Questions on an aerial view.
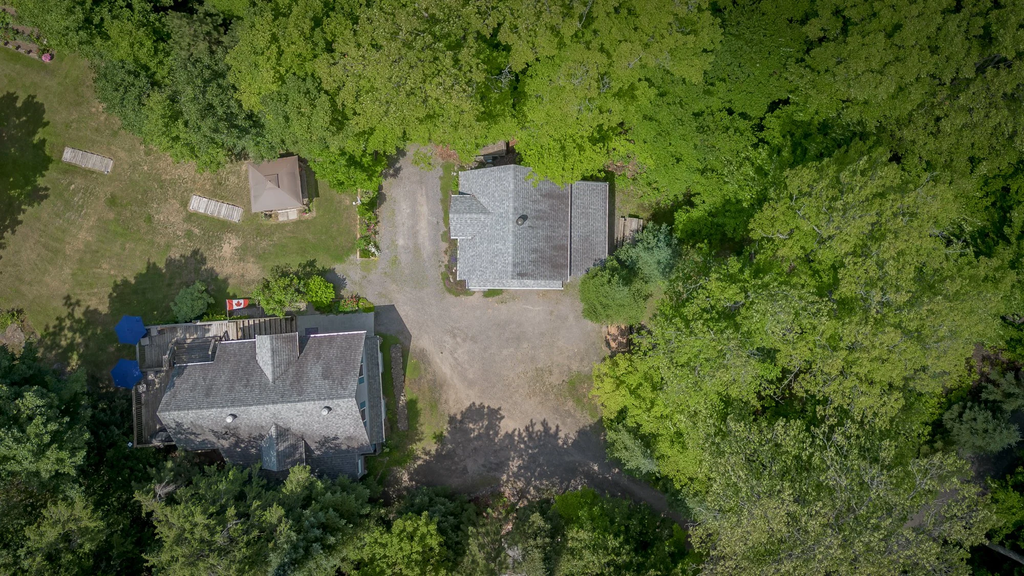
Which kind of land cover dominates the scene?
trees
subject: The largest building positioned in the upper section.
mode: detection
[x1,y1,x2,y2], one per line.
[450,164,609,290]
